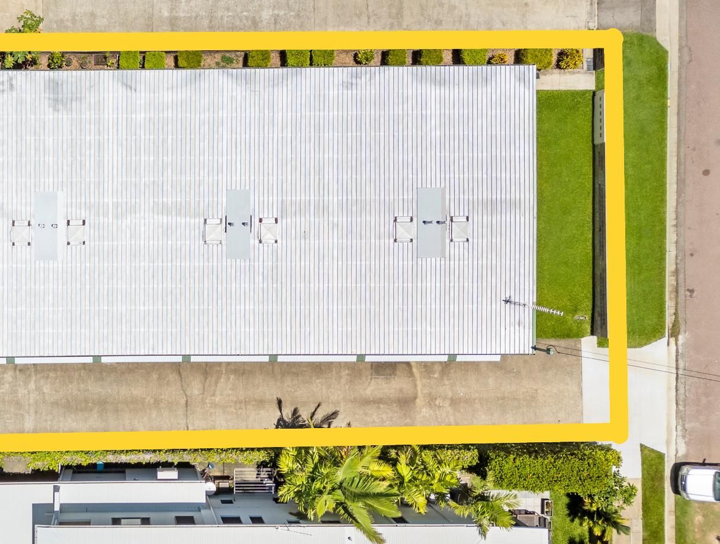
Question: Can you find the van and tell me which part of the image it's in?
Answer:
bottom right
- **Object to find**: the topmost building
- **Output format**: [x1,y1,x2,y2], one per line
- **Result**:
[0,61,536,364]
